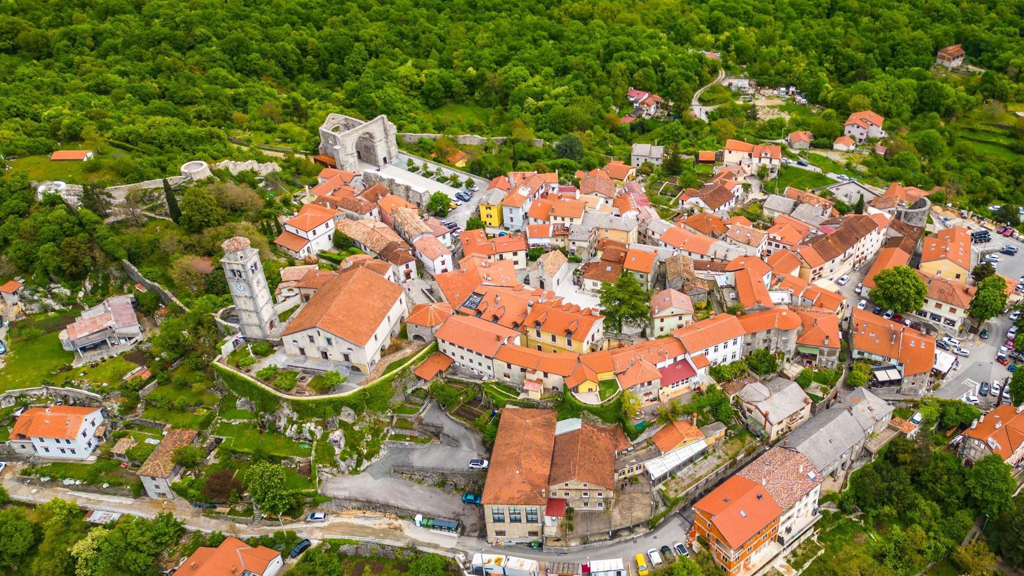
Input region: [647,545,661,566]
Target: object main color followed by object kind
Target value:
white car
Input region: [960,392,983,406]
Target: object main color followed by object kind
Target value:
white car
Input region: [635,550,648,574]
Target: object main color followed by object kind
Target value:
yellow vehicle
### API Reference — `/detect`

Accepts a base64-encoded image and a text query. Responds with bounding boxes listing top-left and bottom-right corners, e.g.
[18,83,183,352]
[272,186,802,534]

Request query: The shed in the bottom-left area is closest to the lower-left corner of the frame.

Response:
[87,508,122,532]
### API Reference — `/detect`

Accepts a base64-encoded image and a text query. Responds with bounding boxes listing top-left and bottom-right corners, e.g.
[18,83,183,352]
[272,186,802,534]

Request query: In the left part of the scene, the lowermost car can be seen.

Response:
[288,539,309,557]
